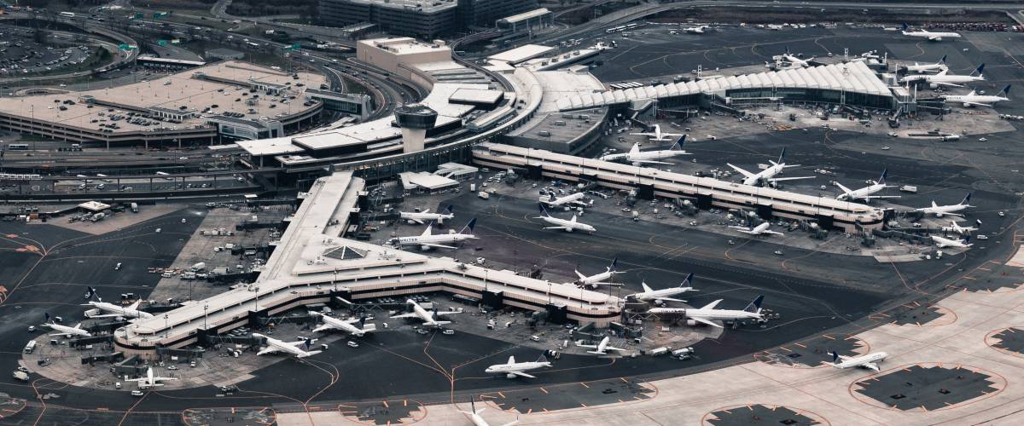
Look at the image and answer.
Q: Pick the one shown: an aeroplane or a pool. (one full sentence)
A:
There is an aeroplane in the scene.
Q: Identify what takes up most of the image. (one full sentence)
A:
The scene is dominated by paved ground.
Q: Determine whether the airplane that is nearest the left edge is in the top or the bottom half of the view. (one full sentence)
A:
The airplane that is nearest the left edge is in the bottom half of the image.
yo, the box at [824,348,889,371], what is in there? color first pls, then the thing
white airplane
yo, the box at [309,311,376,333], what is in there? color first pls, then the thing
white airplane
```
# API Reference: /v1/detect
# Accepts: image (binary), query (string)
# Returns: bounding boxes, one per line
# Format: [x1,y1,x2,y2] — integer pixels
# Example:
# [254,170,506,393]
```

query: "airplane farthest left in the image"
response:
[41,314,94,338]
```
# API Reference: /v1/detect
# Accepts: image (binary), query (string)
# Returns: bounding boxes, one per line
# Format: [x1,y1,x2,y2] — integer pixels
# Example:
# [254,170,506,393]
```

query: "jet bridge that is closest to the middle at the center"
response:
[505,169,522,187]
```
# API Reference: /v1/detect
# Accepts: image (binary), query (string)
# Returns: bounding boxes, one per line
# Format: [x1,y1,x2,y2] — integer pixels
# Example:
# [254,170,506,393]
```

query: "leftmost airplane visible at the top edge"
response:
[683,18,714,34]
